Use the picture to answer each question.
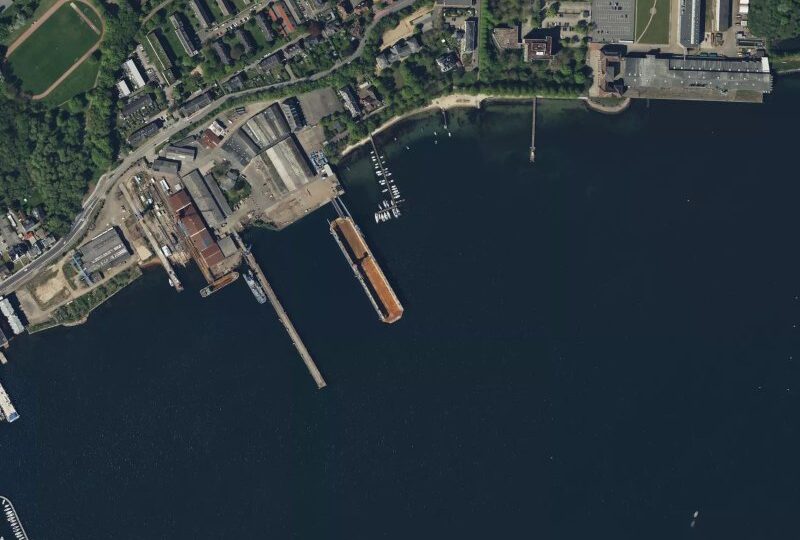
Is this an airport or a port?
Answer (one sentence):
The area seen from above is a port.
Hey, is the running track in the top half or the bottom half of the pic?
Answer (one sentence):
The running track is in the top half of the image.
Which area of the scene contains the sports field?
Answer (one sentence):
The sports field is located in the top left region of the scene.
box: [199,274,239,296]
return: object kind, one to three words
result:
ship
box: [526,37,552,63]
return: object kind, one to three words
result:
building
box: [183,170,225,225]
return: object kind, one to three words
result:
building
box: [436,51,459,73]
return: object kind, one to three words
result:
house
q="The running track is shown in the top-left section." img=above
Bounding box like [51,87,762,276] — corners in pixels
[1,0,105,99]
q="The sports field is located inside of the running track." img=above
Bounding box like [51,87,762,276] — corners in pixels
[5,1,102,95]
